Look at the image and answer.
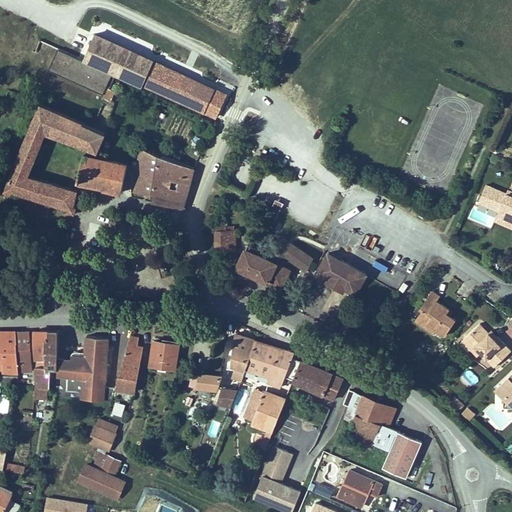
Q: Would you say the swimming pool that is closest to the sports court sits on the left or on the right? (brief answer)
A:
right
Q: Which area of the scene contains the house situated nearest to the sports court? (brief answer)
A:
right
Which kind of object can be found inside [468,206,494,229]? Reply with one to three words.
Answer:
swimming pool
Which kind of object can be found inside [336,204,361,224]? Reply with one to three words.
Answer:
vehicle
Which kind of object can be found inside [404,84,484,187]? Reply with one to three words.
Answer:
sports court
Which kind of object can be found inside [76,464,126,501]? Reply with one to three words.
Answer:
barn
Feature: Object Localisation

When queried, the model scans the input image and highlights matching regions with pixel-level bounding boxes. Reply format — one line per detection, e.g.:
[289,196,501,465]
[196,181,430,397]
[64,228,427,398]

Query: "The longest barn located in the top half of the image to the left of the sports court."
[82,34,227,120]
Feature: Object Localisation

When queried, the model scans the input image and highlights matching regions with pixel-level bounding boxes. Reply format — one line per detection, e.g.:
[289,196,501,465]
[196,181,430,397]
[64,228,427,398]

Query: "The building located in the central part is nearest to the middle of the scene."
[236,249,277,289]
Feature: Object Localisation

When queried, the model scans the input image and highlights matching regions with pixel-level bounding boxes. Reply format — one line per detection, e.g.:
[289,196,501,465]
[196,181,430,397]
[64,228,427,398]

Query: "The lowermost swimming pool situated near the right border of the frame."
[482,392,512,430]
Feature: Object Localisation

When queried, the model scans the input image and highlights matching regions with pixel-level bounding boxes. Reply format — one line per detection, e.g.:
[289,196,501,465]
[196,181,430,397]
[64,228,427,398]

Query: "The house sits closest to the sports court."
[478,184,512,231]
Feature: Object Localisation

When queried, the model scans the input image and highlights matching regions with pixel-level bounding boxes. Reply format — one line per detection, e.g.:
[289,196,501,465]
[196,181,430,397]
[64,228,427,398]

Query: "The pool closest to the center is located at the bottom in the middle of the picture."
[233,389,248,414]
